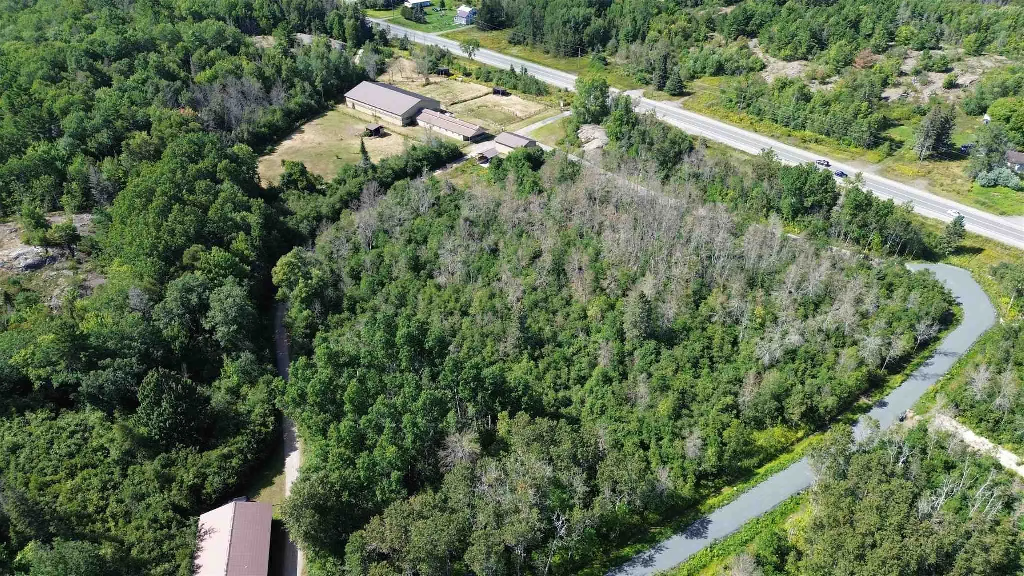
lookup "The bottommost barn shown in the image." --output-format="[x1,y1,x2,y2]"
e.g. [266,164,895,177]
[189,501,274,576]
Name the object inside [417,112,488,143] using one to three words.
building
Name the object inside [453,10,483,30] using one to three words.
house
